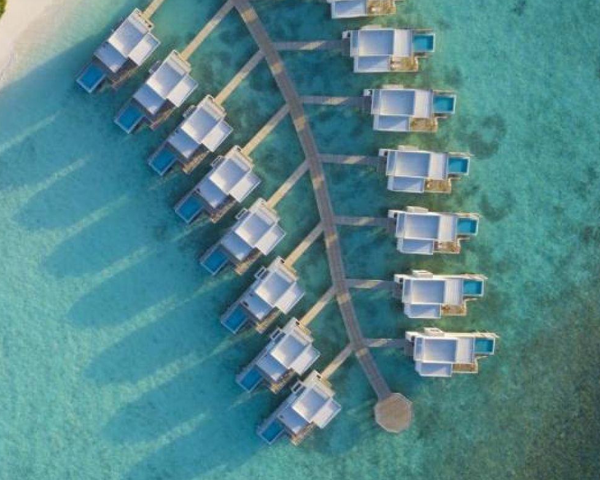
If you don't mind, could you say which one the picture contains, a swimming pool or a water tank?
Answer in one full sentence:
I can see a swimming pool in this picture.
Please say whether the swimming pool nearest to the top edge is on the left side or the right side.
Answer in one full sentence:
It is on the right.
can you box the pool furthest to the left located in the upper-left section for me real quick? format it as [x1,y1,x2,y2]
[77,61,107,93]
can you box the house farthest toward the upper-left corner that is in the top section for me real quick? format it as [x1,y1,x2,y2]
[73,7,161,90]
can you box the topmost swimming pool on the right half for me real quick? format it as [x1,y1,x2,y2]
[411,32,433,52]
